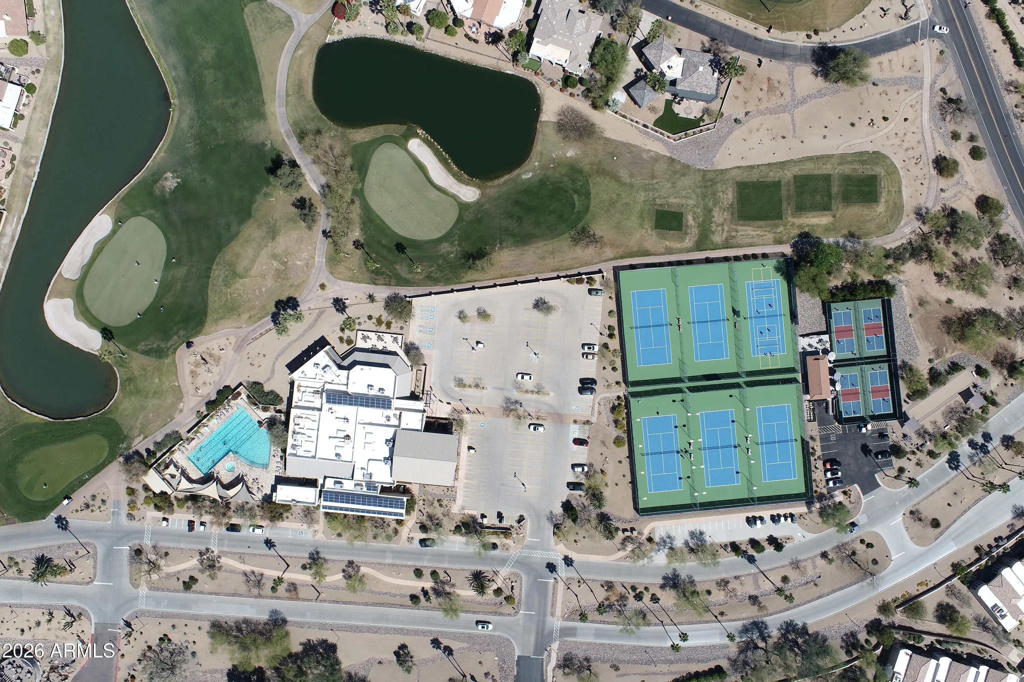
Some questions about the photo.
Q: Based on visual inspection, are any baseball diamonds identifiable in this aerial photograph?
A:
No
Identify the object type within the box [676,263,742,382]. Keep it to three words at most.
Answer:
tennis court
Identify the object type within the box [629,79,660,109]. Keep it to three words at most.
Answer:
shed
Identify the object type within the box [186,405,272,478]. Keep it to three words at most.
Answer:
swimming pool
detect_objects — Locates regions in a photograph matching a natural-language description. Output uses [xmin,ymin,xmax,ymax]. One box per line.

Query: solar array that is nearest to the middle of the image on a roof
[325,394,392,409]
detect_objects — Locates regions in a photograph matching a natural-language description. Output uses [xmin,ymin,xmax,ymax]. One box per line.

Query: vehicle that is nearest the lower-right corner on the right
[844,522,860,534]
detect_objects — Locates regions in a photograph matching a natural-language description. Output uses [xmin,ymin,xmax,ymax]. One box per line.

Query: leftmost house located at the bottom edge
[881,641,938,682]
